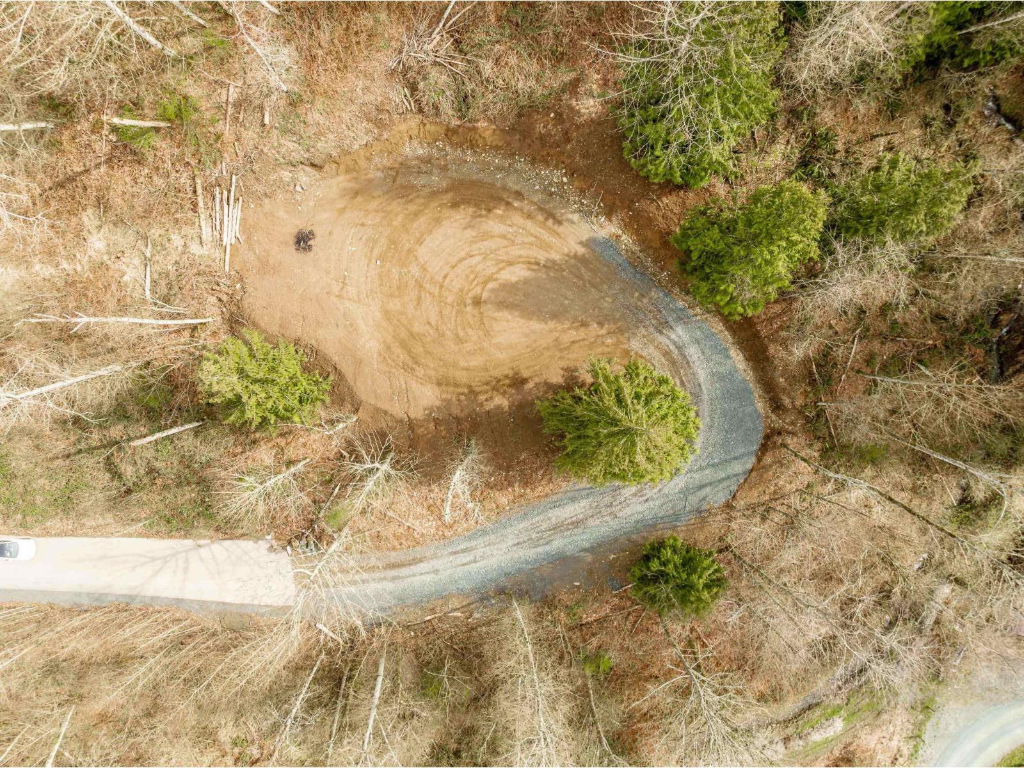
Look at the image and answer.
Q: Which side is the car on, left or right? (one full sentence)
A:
The car is on the left side of the image.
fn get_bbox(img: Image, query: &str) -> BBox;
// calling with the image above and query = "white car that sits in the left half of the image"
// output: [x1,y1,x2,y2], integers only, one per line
[0,540,32,569]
